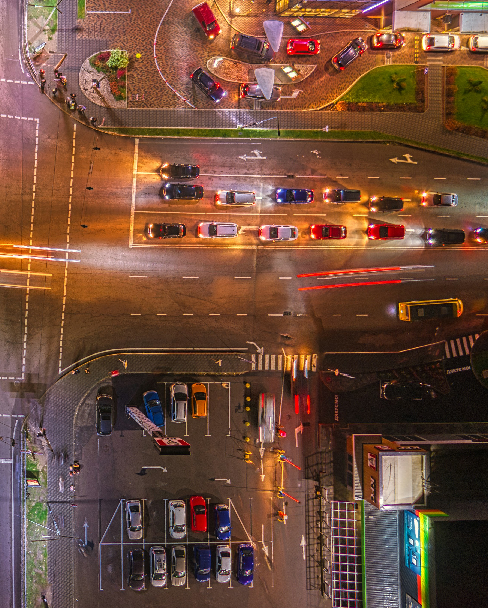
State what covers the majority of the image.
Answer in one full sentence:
The bulk of the photo consists of paved ground.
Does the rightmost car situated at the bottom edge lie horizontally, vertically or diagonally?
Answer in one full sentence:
In this picture, the rightmost car situated at the bottom edge lies vertically.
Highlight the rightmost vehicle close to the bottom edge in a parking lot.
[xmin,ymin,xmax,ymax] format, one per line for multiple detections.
[234,542,255,584]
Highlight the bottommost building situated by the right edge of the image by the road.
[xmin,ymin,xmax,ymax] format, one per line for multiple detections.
[347,433,488,608]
